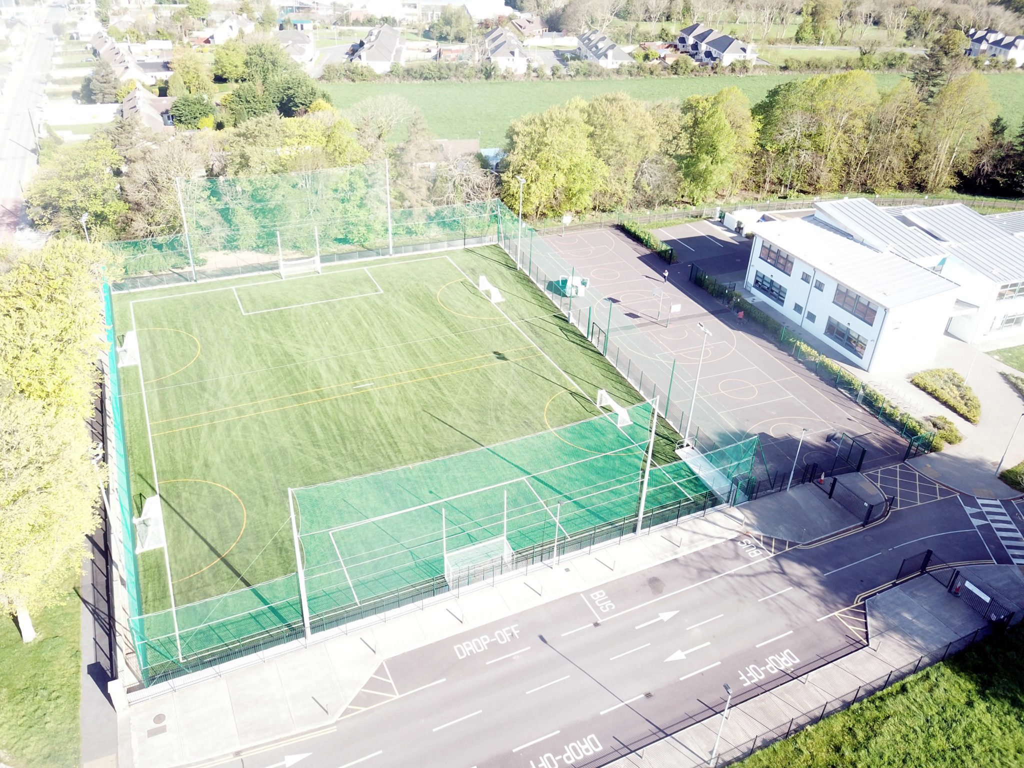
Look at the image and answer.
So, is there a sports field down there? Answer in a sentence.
Yes, the picture does show a sports field.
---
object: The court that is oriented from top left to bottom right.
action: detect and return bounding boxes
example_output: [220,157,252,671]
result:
[499,220,905,497]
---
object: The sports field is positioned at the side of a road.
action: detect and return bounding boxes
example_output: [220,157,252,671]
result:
[108,244,732,689]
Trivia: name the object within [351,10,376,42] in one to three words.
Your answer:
building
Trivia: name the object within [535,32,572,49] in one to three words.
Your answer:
house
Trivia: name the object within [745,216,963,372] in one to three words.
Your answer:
building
